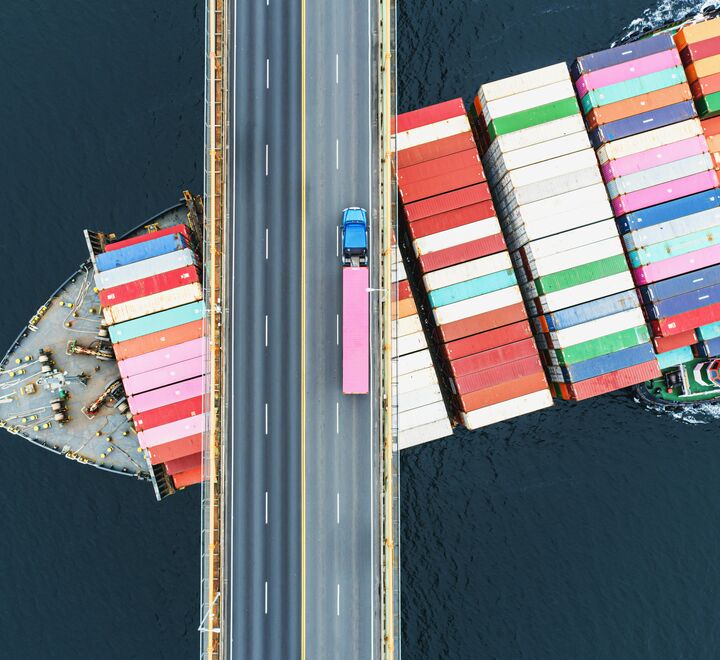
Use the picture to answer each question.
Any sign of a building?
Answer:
No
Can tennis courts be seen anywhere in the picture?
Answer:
No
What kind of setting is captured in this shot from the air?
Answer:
port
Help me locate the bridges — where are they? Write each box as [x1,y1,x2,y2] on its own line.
[200,0,399,660]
